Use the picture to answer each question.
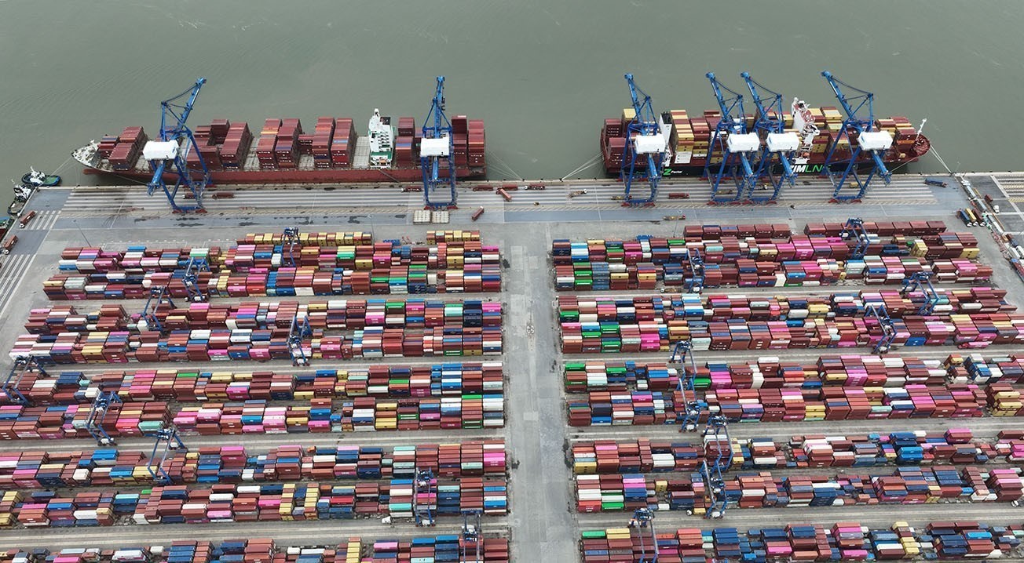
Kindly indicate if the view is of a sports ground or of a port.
port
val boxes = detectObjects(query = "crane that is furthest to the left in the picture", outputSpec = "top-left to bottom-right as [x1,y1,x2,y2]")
[0,356,43,409]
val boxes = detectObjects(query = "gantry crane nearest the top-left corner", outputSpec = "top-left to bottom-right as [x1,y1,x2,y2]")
[149,79,215,212]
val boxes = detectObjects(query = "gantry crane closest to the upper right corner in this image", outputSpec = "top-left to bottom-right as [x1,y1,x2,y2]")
[818,72,890,202]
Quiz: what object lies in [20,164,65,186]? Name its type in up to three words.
boat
